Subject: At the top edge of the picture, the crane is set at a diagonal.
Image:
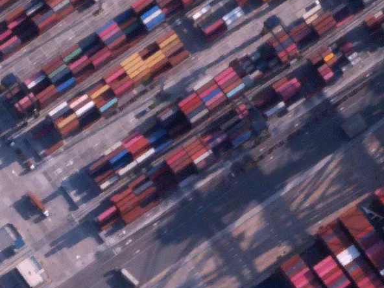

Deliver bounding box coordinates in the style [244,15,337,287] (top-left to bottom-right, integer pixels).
[259,10,301,67]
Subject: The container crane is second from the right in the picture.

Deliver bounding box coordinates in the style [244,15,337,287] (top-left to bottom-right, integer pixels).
[222,85,264,143]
